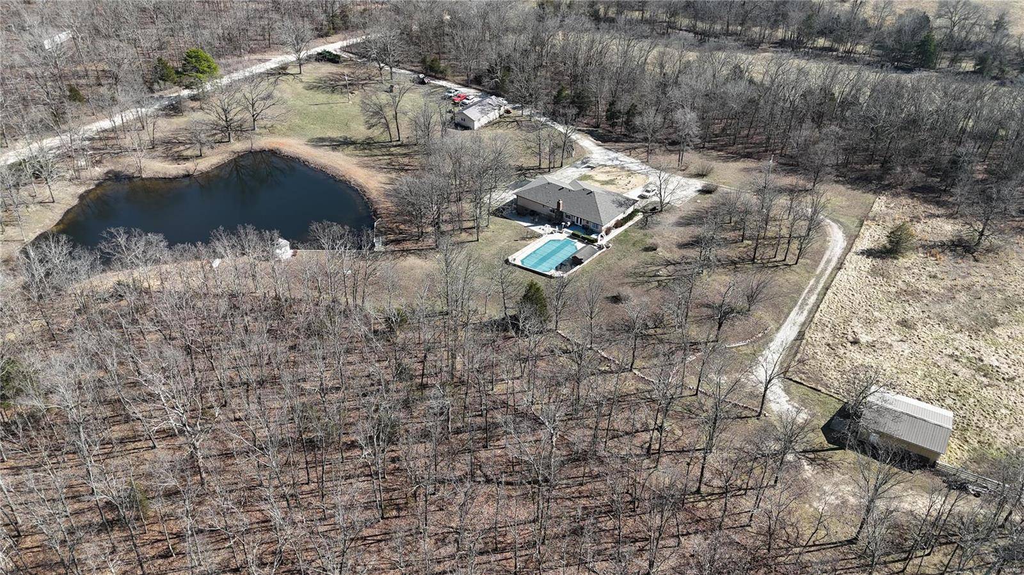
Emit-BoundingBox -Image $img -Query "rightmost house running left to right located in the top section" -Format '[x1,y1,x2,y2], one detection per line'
[515,177,643,235]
